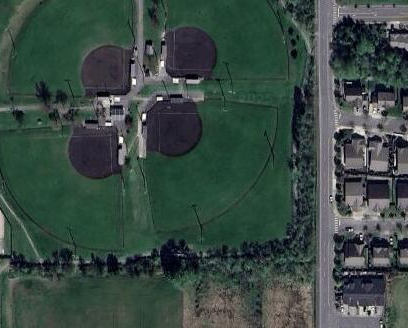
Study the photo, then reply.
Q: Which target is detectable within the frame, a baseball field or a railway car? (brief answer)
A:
baseball field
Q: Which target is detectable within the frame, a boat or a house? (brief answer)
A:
house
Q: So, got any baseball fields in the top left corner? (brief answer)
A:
Yes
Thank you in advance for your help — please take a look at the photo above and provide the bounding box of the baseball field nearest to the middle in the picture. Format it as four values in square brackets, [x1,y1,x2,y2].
[145,100,276,232]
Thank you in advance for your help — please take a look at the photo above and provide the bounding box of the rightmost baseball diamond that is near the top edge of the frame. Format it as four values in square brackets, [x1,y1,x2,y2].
[166,0,288,79]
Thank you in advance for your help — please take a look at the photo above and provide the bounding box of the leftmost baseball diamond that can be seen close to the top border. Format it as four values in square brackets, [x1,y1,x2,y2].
[10,0,131,97]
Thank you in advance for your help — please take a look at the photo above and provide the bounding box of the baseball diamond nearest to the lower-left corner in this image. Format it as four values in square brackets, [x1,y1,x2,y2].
[0,125,122,249]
